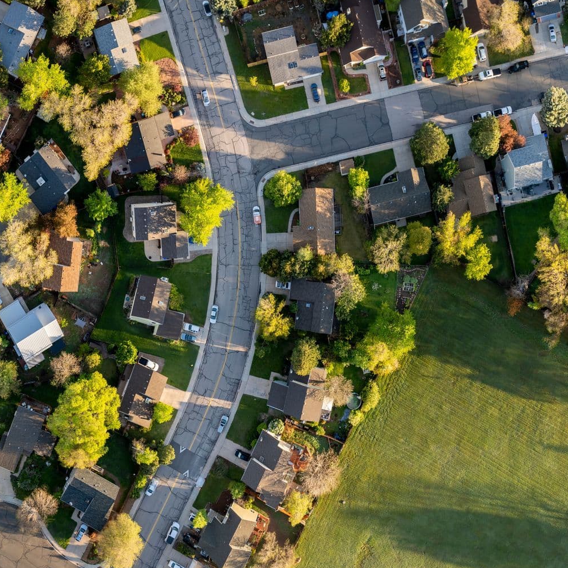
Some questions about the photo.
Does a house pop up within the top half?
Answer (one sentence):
Yes, looking within the top half, one can make out a house.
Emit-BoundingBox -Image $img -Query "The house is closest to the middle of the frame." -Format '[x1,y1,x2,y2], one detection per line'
[288,278,335,334]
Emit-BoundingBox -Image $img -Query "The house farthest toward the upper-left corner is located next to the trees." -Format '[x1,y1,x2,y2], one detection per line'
[0,4,45,81]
